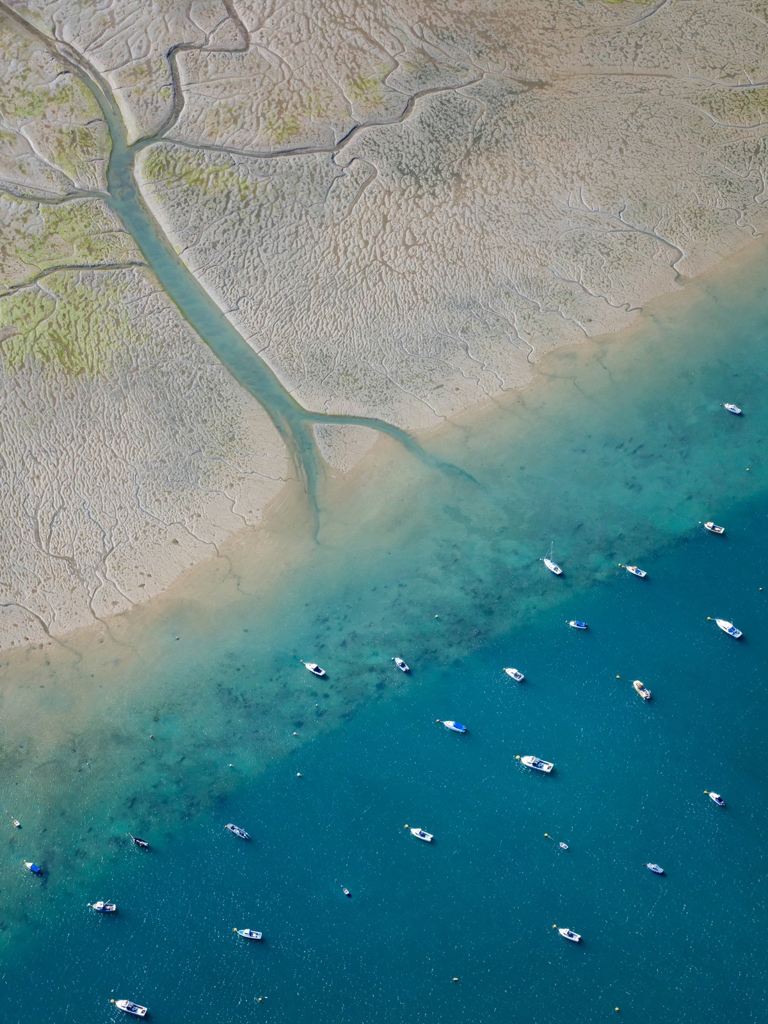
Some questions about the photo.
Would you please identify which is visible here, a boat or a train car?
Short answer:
boat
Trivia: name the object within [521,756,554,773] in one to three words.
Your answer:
boat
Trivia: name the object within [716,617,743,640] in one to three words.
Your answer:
boat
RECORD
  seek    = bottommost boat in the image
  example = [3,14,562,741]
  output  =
[115,999,149,1017]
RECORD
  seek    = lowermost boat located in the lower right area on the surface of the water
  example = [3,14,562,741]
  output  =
[558,928,582,943]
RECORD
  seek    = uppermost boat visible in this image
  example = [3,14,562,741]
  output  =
[724,403,741,415]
